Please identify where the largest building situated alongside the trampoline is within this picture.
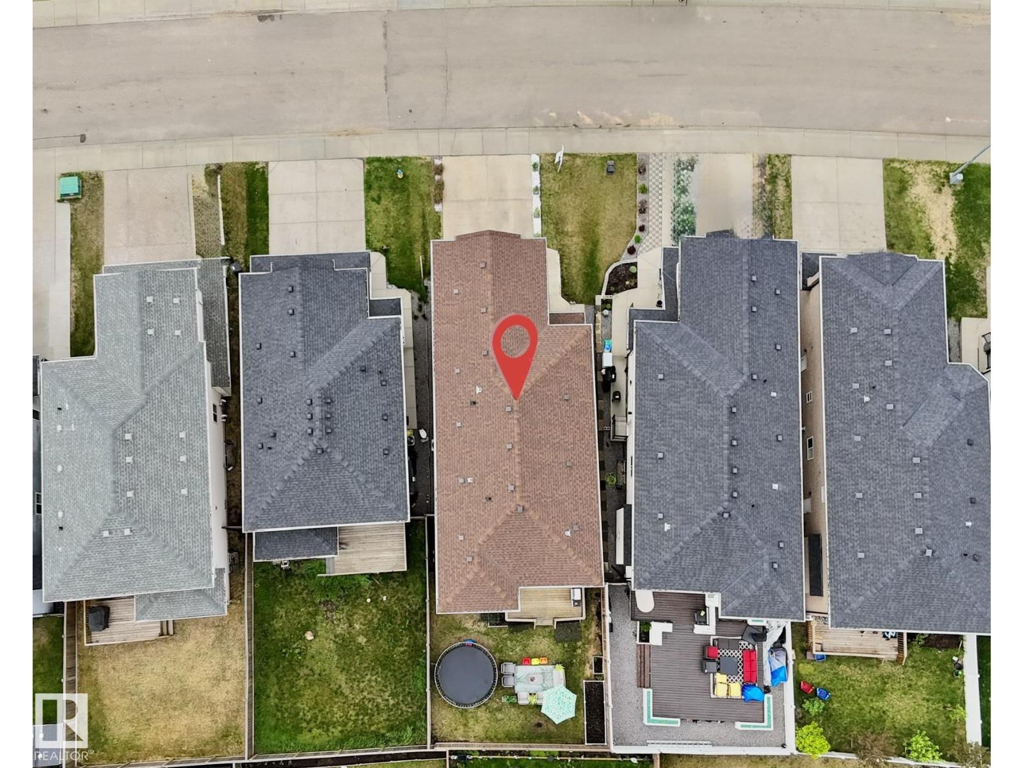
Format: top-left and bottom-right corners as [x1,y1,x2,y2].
[430,230,605,615]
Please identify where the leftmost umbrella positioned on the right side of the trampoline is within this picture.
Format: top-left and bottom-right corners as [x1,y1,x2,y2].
[540,685,576,724]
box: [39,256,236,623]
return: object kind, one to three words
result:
house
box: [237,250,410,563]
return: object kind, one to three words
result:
house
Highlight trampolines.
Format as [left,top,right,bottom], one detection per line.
[434,642,498,708]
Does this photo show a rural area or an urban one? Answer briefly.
urban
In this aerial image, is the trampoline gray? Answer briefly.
Yes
